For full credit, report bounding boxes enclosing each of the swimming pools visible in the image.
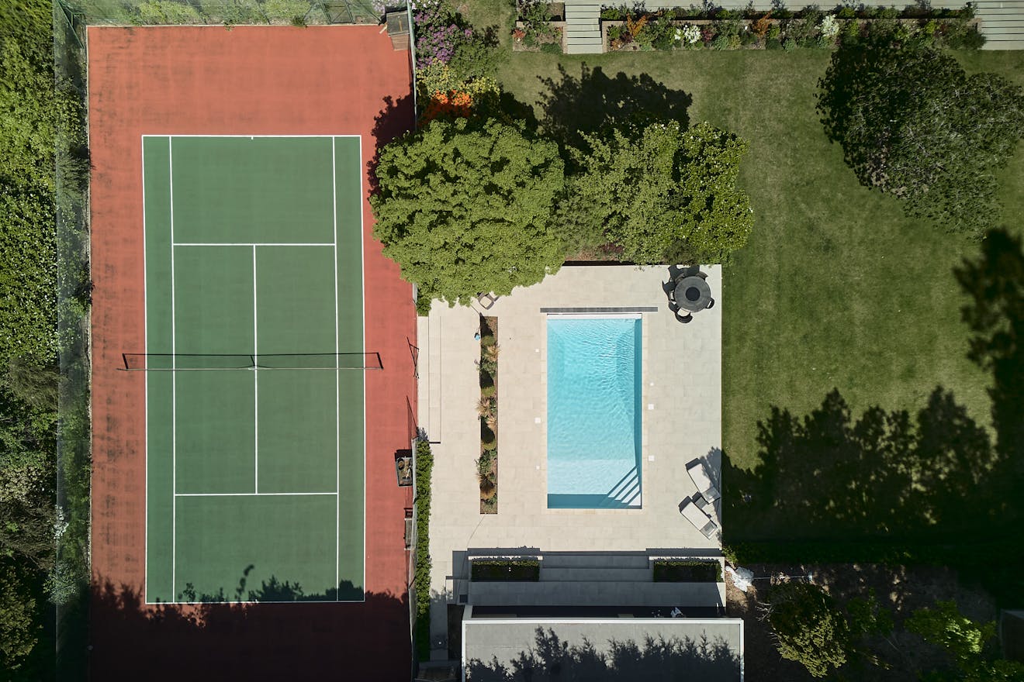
[541,308,657,514]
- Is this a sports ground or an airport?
sports ground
